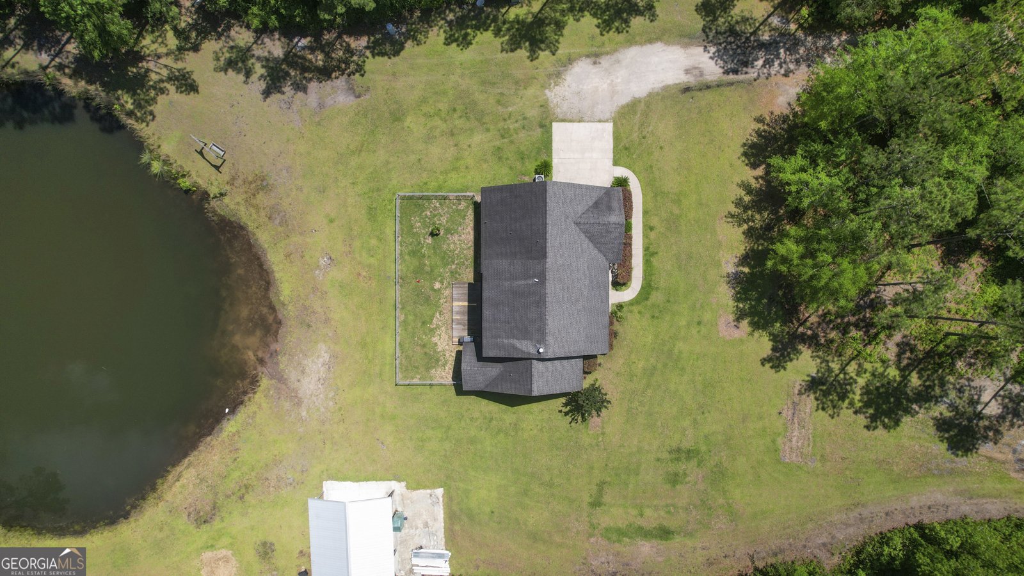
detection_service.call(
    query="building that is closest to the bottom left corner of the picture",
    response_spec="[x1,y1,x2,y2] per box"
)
[308,489,398,576]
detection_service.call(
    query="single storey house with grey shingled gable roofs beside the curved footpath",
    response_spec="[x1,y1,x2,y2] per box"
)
[461,181,625,395]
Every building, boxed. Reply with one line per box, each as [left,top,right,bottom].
[461,181,625,395]
[308,489,398,576]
